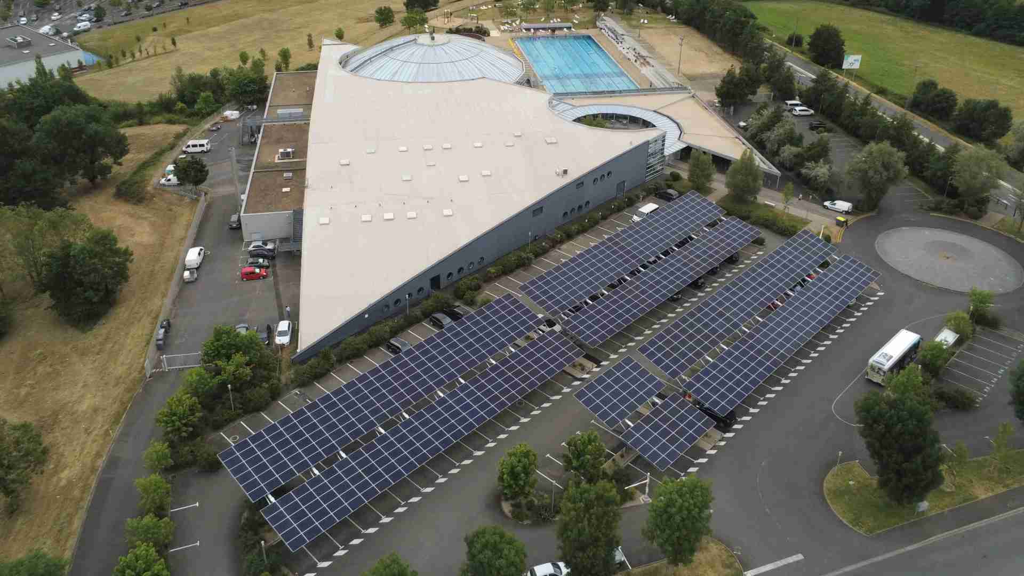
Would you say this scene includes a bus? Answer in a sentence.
Yes, looking at the shot, I can spot a bus.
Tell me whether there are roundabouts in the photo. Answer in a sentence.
Yes, a roundabout can be made out from above.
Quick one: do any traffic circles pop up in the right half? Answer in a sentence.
Yes, a traffic circle appears in the right half.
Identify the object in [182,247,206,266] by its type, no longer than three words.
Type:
vehicle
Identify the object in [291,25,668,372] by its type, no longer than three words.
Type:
building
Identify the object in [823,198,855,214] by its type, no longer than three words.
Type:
vehicle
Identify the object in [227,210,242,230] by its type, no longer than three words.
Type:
car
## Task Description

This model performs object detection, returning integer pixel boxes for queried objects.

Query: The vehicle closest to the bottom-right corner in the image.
[863,328,920,386]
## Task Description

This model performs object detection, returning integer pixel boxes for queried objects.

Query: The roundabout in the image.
[879,226,1021,293]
